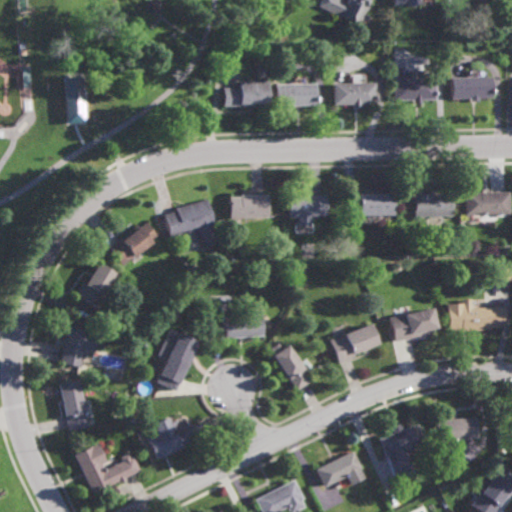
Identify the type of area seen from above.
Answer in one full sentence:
This image shows a residential area.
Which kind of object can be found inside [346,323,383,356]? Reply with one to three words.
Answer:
house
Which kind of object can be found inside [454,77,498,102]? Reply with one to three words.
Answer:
house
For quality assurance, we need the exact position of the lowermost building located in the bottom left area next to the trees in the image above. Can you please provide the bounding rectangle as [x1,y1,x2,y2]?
[75,446,140,492]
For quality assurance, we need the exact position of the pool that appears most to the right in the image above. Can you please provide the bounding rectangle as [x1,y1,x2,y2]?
[136,382,152,396]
